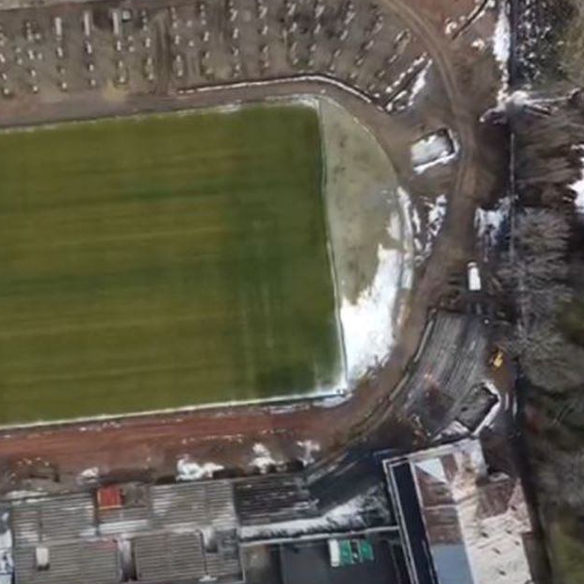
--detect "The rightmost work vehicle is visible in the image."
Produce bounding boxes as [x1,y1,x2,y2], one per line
[490,342,508,364]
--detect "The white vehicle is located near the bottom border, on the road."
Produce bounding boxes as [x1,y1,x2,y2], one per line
[329,541,342,565]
